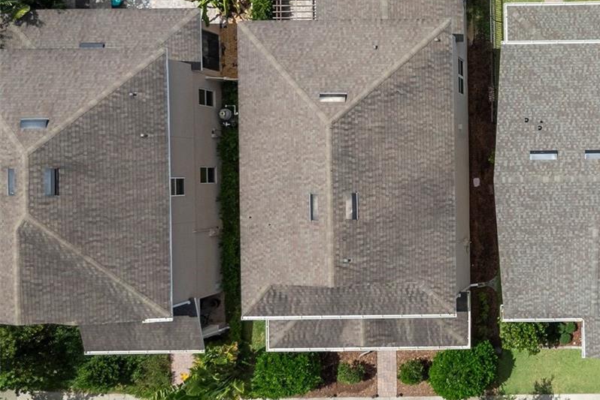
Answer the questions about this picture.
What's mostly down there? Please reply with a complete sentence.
Most of the picture is covered by buildings.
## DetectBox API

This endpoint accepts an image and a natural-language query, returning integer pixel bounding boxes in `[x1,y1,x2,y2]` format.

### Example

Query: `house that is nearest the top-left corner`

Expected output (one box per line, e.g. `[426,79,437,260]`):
[0,8,264,354]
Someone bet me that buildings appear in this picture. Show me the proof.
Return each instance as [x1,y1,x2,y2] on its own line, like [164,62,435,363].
[0,8,264,354]
[236,0,485,352]
[494,1,600,359]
